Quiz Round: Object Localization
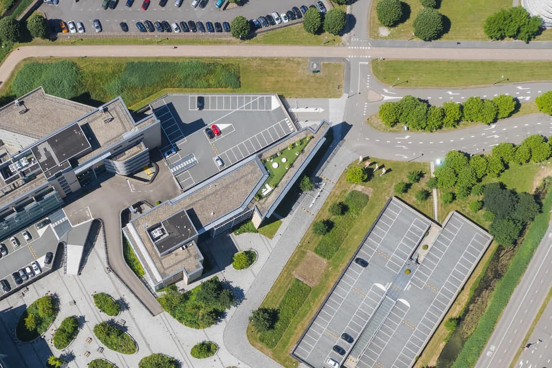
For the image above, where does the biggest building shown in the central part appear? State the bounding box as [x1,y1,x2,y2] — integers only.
[123,120,331,290]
